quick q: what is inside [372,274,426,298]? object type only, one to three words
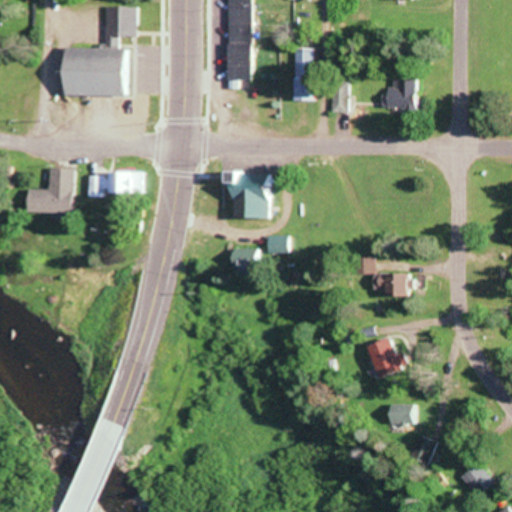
house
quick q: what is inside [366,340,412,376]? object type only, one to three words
house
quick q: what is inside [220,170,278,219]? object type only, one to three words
building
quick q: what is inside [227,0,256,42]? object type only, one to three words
building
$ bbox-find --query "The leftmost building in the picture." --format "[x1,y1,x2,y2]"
[25,168,77,214]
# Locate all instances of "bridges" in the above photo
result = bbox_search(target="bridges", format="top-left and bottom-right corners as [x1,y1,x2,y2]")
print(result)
[58,407,128,512]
